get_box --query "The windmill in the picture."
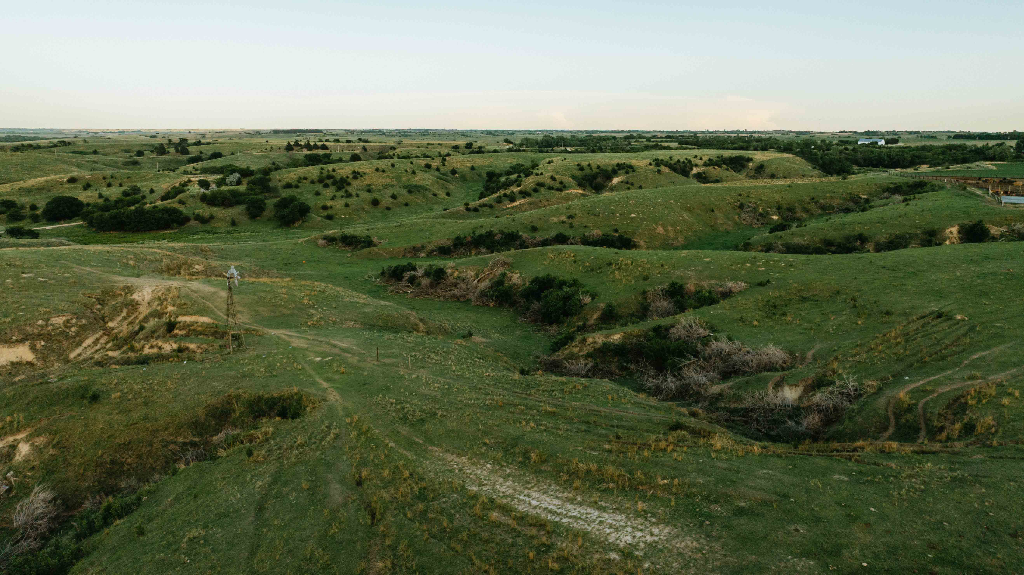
[221,267,243,351]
